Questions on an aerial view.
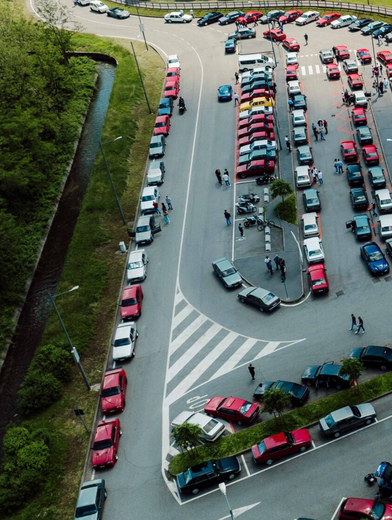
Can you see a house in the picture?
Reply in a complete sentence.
No, the picture doesn't show any house.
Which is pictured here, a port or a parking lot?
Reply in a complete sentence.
It's a parking lot.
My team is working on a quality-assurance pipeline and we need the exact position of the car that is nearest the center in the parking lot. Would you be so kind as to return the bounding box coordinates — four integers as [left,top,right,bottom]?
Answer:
[212,257,243,289]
